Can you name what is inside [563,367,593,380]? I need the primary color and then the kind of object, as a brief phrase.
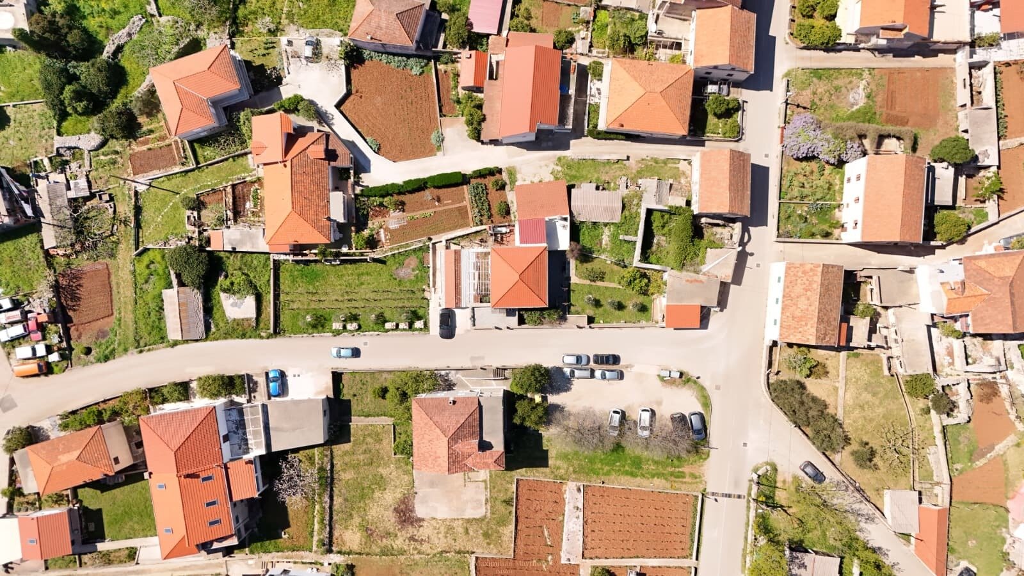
white vehicle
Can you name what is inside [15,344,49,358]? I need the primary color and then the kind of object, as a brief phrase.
white car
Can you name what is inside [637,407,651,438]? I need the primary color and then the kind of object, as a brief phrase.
white car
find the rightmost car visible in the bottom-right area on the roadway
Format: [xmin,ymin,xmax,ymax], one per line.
[798,459,826,485]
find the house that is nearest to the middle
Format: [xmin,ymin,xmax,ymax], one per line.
[490,245,548,309]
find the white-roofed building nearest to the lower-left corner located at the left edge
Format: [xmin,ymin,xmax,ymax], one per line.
[0,508,31,565]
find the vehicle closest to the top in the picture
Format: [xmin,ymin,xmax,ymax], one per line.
[303,35,316,62]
